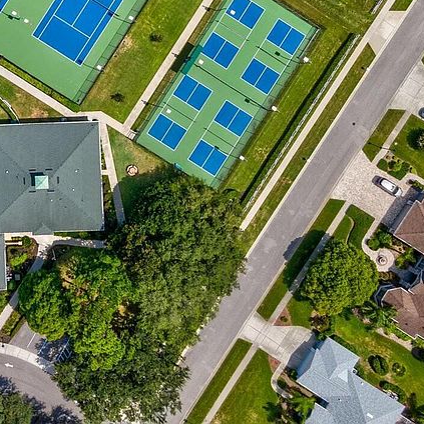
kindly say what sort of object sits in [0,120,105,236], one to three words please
building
